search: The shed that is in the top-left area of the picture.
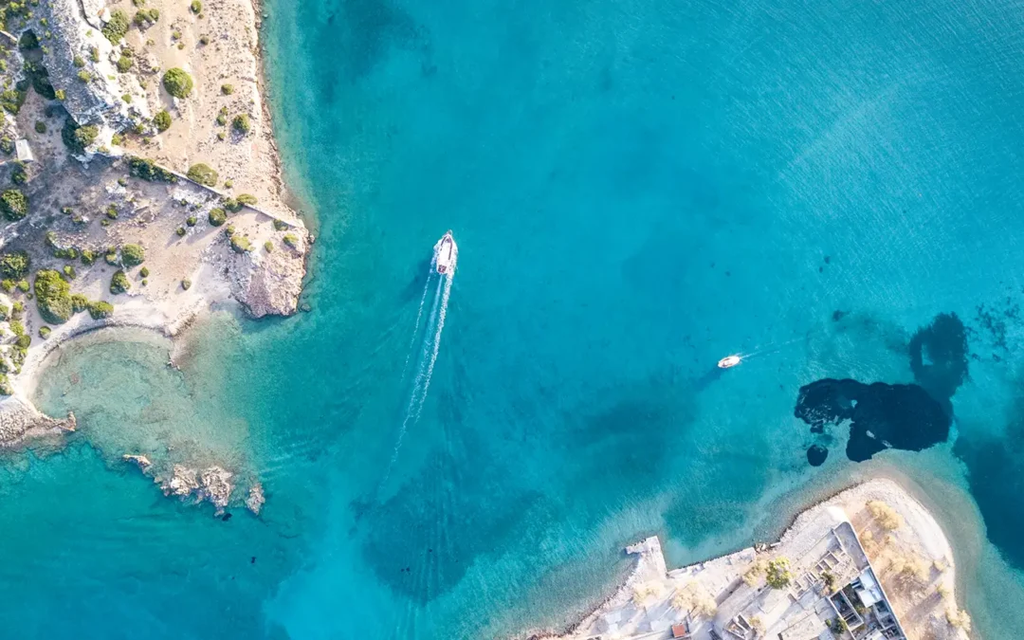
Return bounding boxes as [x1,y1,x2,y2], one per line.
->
[16,139,37,161]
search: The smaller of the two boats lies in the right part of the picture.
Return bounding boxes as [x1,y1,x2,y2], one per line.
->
[719,355,742,368]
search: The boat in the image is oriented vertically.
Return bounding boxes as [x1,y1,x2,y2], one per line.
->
[435,227,453,276]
